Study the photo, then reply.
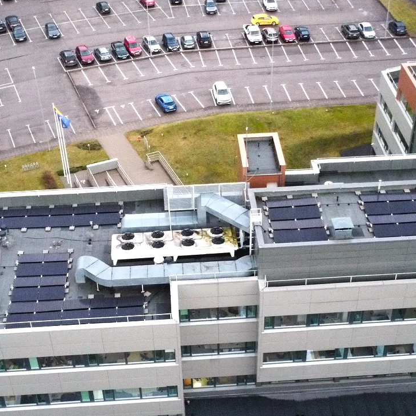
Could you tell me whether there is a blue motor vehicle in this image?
Yes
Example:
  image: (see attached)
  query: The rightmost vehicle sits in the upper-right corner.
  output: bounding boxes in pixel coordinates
[388,22,408,38]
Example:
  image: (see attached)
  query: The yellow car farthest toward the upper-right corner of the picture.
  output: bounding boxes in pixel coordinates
[250,14,280,27]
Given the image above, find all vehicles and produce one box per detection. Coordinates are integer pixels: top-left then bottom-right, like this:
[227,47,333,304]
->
[181,33,196,53]
[340,24,361,42]
[3,16,20,31]
[0,19,7,35]
[356,23,377,41]
[242,24,262,45]
[262,29,280,45]
[94,48,113,65]
[294,28,311,43]
[141,36,163,56]
[96,3,112,17]
[279,26,296,44]
[250,14,280,27]
[154,94,178,116]
[75,44,95,66]
[196,32,213,49]
[44,23,63,41]
[212,81,231,105]
[60,51,78,68]
[204,0,219,16]
[388,22,408,38]
[110,42,131,62]
[262,0,278,12]
[171,0,182,6]
[161,31,182,53]
[122,34,143,57]
[11,26,28,44]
